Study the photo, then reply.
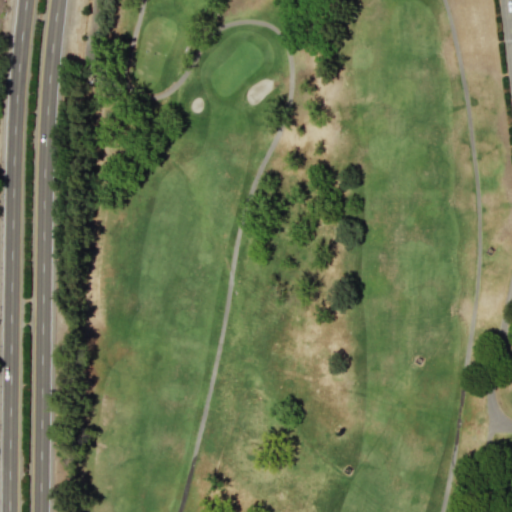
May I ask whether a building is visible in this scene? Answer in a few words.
No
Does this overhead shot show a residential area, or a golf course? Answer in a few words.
golf course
